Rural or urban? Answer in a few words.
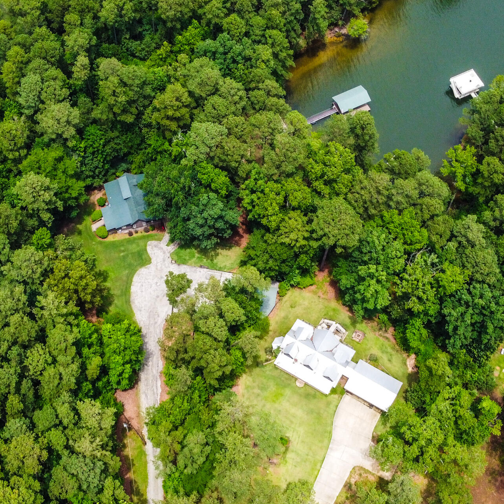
rural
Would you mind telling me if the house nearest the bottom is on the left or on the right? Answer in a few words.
right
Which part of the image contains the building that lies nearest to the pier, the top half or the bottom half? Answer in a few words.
top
